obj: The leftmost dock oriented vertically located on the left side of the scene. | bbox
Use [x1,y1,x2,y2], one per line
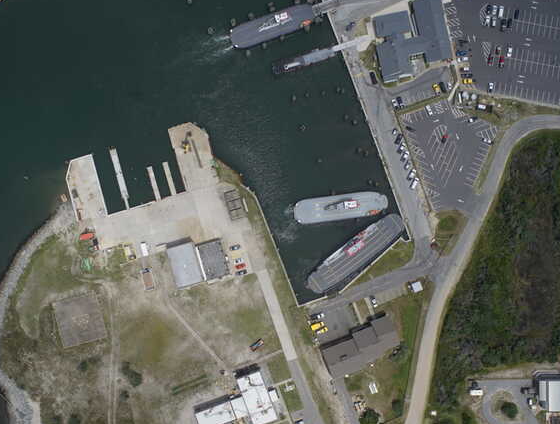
[109,145,131,214]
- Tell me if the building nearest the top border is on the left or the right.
right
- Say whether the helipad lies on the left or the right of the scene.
left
